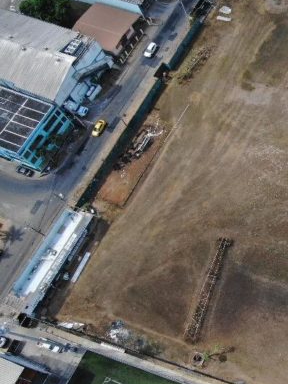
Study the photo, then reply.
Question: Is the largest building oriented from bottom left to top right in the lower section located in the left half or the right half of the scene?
left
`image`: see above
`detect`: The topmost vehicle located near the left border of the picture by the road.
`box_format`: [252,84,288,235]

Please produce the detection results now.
[13,164,34,177]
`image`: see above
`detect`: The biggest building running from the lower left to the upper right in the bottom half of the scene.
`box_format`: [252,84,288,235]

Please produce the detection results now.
[12,211,93,301]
